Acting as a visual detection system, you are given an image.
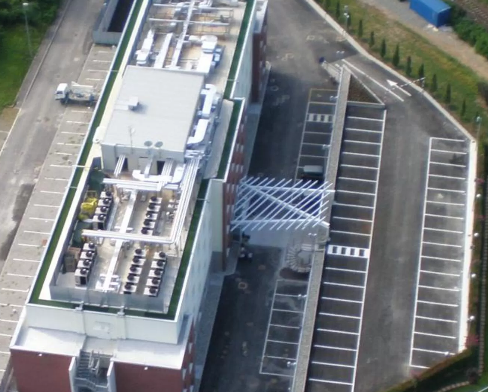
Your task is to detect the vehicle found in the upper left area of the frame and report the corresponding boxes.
[57,83,100,105]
